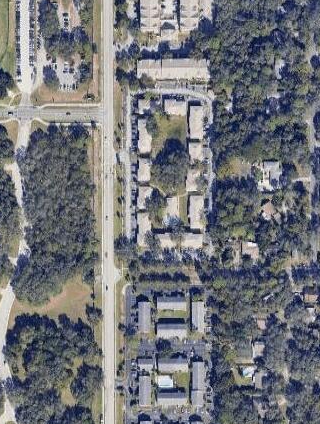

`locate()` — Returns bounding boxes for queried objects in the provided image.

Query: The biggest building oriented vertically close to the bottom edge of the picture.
[192,362,205,406]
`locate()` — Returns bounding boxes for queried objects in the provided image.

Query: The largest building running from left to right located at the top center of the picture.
[137,59,210,80]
